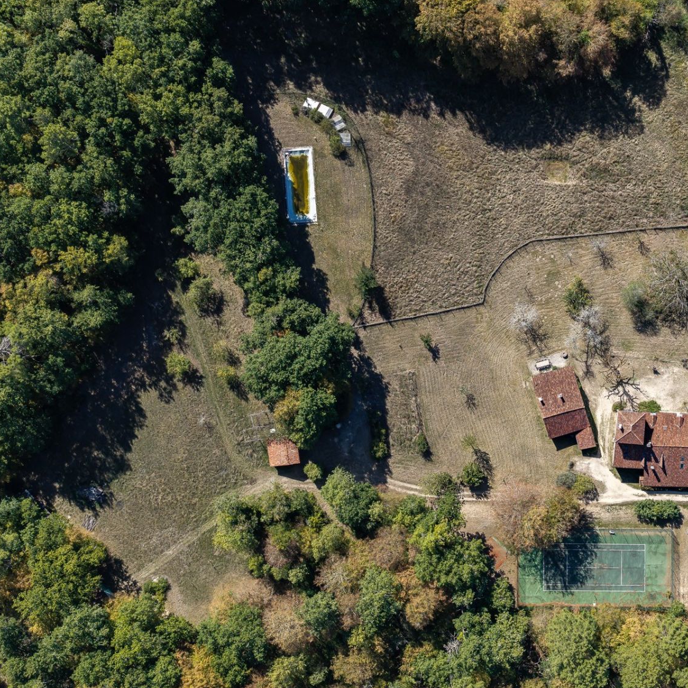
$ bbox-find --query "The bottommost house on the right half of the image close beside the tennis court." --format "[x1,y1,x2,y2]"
[613,411,688,487]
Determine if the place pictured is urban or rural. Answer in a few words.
rural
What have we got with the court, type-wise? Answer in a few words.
tennis court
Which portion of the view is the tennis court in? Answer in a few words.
bottom right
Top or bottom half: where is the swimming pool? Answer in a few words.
top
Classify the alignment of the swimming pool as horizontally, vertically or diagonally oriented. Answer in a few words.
vertically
